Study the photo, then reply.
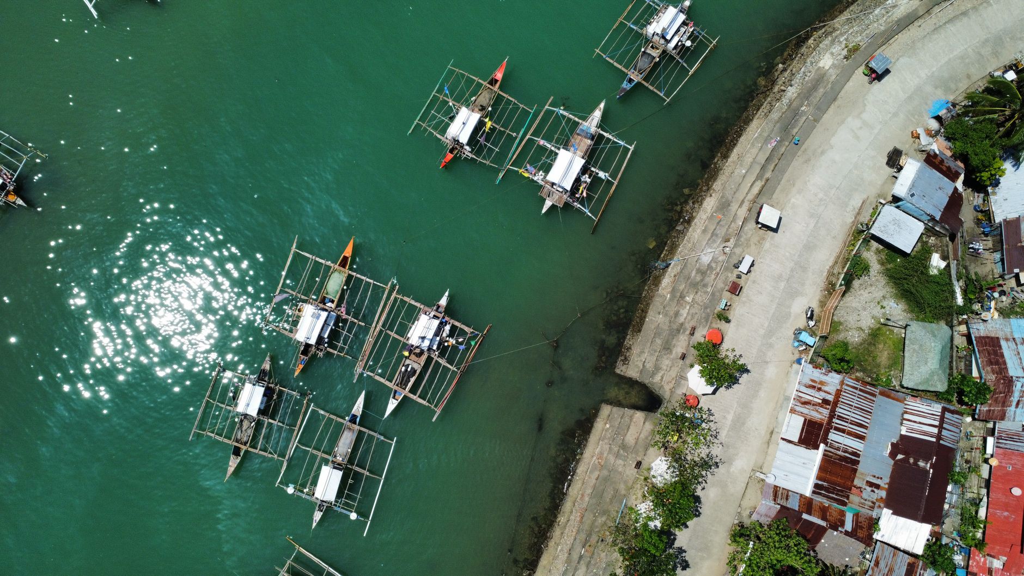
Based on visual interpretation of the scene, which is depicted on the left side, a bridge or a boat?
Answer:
boat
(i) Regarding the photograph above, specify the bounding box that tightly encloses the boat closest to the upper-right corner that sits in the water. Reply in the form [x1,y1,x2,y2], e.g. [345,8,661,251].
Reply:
[593,0,721,105]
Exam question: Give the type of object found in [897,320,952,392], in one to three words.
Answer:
shed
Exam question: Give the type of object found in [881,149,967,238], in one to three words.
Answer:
house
